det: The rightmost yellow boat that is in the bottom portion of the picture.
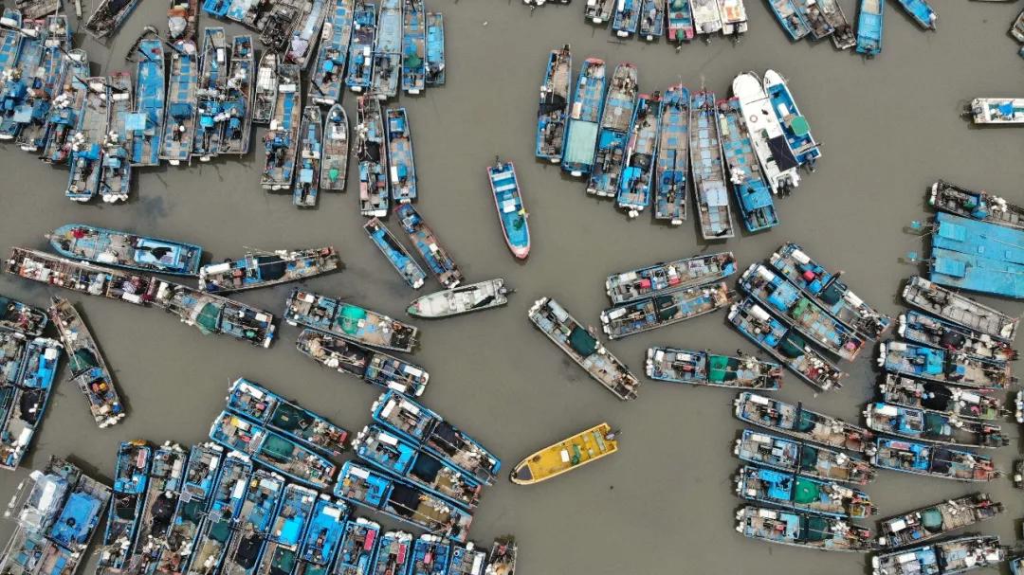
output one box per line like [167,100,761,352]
[508,423,623,483]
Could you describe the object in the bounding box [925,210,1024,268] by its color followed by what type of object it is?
blue ship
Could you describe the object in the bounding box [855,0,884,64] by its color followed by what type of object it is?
blue boat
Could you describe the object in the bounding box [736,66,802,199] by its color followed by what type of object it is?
white boat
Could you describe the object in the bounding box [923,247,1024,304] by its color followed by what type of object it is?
blue ship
